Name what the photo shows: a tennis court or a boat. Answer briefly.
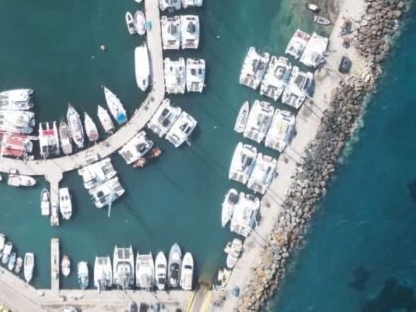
boat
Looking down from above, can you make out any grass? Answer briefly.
No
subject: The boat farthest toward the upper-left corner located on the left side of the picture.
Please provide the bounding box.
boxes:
[0,89,33,115]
